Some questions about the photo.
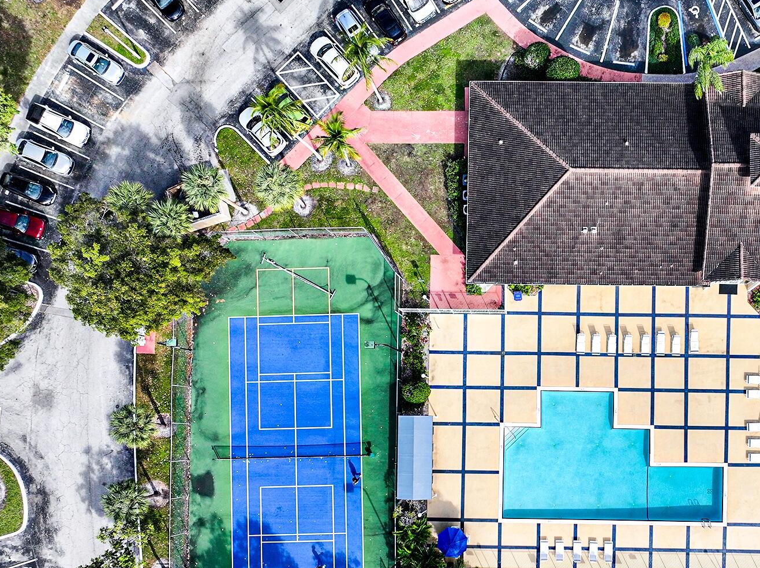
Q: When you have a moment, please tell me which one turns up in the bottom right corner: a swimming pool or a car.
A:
swimming pool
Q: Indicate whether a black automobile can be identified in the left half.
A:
Yes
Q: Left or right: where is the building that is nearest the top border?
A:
right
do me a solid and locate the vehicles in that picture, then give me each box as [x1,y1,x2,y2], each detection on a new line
[0,207,52,243]
[312,35,361,93]
[149,0,186,21]
[363,0,409,51]
[68,41,127,88]
[0,169,60,210]
[17,138,78,178]
[332,8,377,58]
[403,0,436,27]
[24,102,94,150]
[240,105,289,159]
[733,0,760,38]
[268,84,313,138]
